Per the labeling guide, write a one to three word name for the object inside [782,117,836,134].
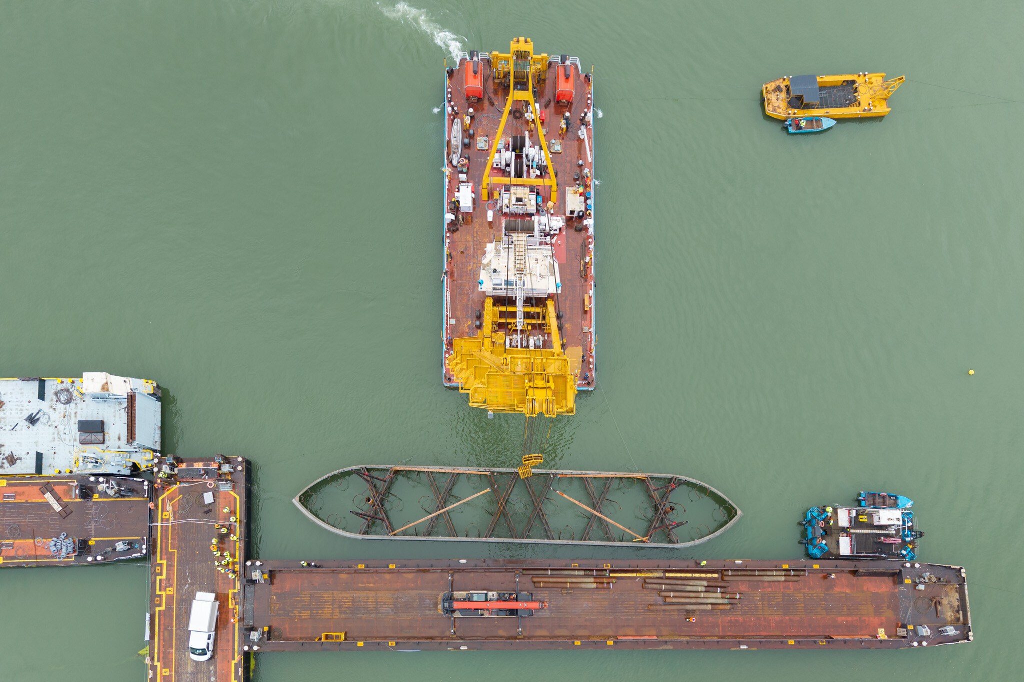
boat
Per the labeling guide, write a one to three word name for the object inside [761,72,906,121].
ship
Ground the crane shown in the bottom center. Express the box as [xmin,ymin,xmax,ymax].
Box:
[442,572,547,638]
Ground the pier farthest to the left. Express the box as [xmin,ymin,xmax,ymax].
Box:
[148,452,250,682]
